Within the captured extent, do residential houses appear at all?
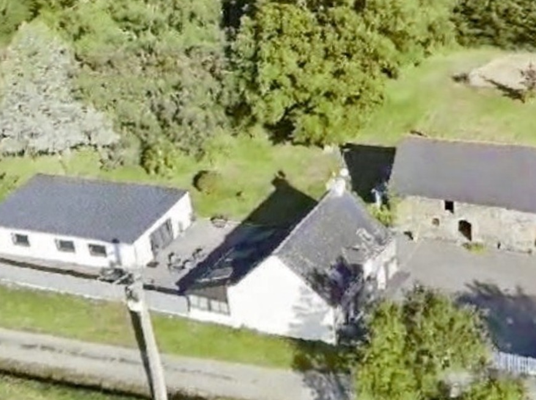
Yes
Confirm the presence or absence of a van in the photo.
No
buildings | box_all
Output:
[182,157,402,344]
[0,171,189,268]
[396,133,536,256]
